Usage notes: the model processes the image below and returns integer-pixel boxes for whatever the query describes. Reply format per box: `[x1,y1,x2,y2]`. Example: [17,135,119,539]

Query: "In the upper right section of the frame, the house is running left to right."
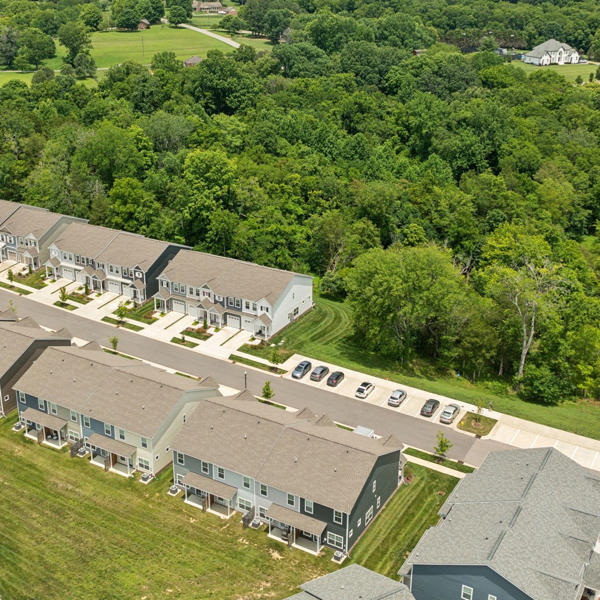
[526,39,586,66]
